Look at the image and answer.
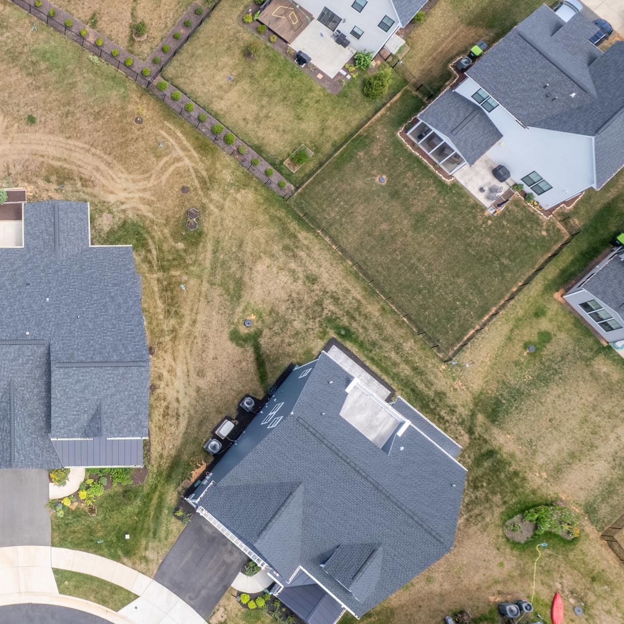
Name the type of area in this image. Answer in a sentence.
The picture captures a residential area.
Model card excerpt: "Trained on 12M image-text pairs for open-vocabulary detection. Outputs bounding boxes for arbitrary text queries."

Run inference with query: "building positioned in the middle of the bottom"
[184,349,467,624]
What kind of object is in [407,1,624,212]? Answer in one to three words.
house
